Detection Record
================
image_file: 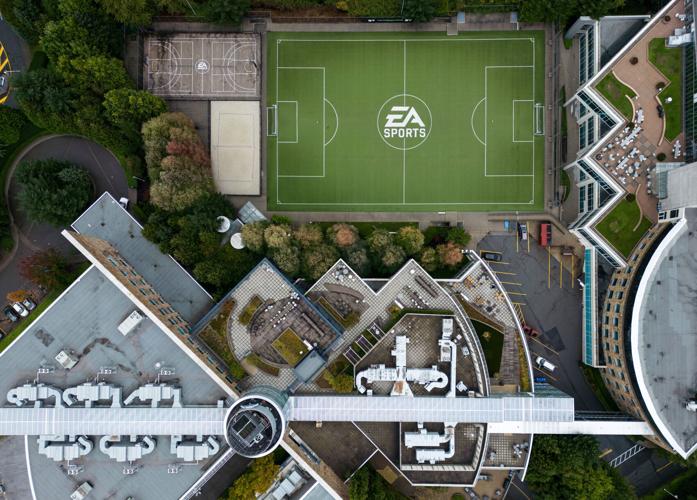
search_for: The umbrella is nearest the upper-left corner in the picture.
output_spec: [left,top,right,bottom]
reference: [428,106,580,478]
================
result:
[216,216,231,232]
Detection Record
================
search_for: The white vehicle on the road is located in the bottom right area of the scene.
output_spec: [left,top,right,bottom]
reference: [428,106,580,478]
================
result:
[535,355,557,372]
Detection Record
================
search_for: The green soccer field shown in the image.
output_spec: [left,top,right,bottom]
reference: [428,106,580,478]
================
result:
[267,30,545,212]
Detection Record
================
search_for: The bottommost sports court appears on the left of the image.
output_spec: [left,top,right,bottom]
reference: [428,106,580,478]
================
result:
[210,101,260,195]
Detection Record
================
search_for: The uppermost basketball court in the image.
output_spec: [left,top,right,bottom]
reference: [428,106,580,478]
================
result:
[144,32,261,95]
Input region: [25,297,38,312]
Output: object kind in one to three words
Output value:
vehicle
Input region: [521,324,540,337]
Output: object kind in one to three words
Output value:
vehicle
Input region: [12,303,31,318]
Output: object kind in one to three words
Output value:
car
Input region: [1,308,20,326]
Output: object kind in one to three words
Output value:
car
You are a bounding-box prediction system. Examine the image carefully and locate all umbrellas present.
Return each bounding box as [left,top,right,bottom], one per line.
[230,233,246,249]
[216,216,231,232]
